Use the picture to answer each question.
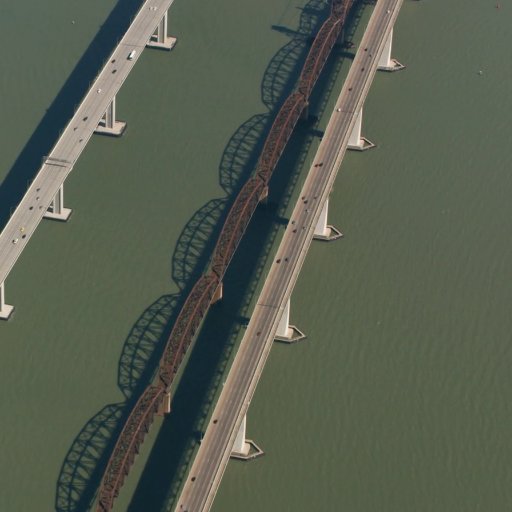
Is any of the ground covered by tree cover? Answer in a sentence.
No, there's no tree cover in this view.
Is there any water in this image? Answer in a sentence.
Yes, water shows up in the scene.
